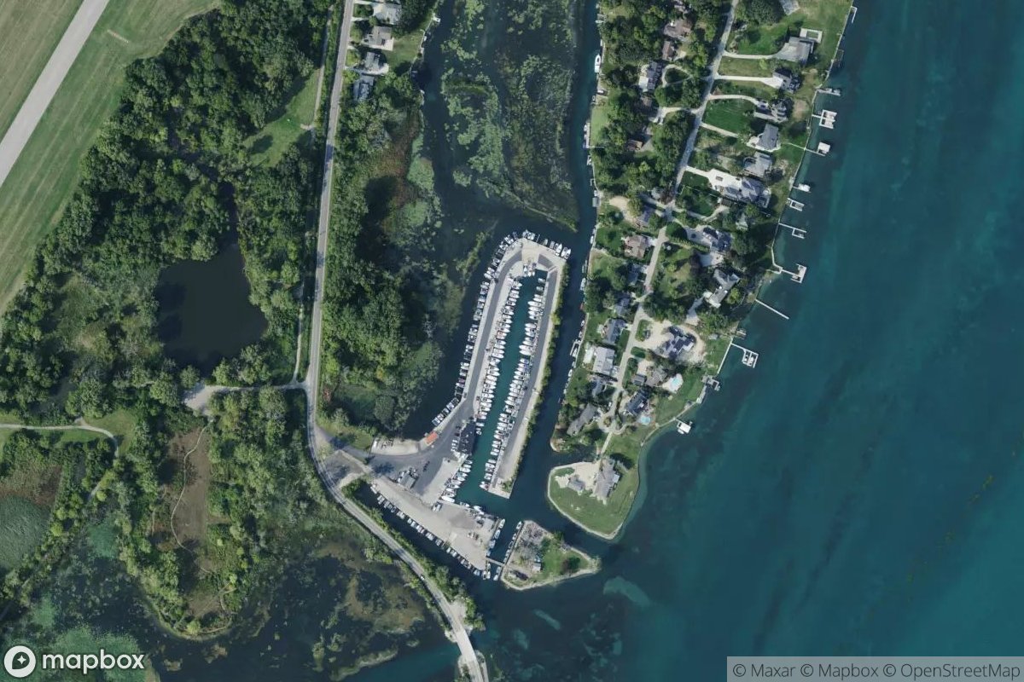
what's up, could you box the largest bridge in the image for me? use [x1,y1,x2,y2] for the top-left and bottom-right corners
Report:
[448,621,479,672]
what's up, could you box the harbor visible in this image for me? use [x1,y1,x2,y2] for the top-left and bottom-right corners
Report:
[317,238,570,571]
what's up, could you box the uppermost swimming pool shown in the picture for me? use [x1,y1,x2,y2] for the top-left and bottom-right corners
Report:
[662,373,683,393]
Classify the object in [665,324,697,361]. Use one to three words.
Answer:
house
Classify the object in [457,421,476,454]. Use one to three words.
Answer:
building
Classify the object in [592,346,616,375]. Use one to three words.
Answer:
house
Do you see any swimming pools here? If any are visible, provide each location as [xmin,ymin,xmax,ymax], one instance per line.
[639,412,652,425]
[662,373,683,393]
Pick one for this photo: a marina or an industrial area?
marina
